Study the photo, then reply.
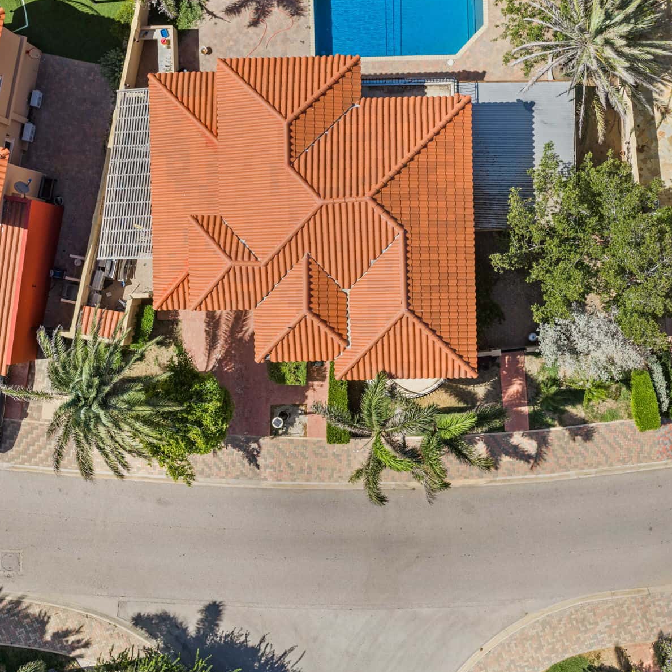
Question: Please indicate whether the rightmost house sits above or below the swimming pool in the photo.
below it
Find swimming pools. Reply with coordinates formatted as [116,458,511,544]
[310,0,489,60]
